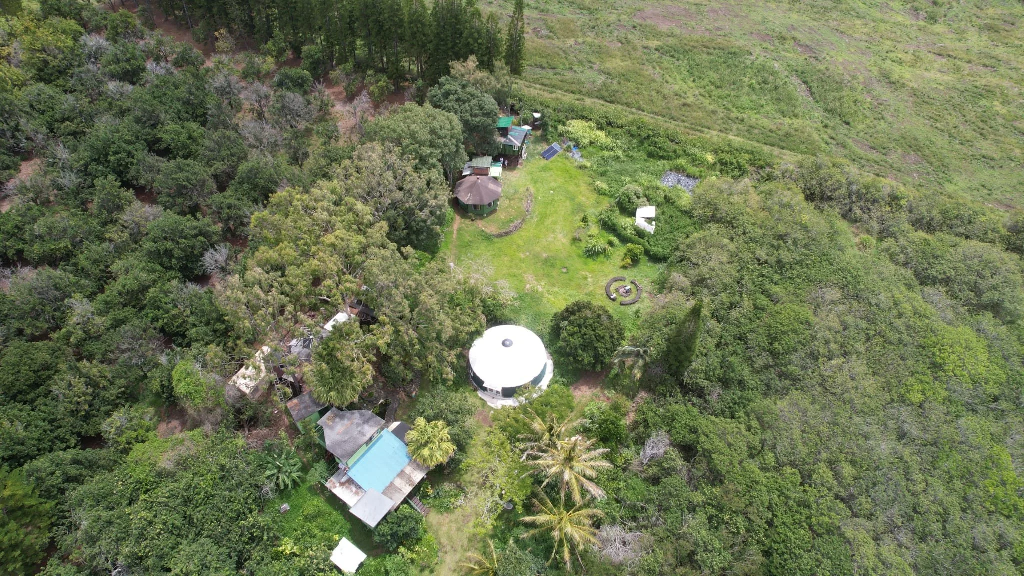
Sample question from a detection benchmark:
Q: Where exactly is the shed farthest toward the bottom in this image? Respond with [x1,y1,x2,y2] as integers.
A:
[331,537,368,574]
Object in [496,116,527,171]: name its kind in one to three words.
house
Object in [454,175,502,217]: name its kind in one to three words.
house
